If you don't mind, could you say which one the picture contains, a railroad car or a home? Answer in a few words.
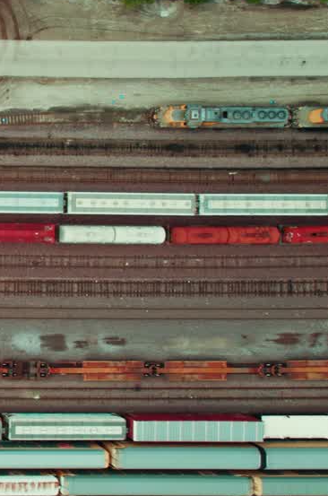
railroad car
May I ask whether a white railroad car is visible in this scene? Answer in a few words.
Yes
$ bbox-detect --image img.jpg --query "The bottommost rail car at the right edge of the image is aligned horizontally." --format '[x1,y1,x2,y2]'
[240,466,328,496]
